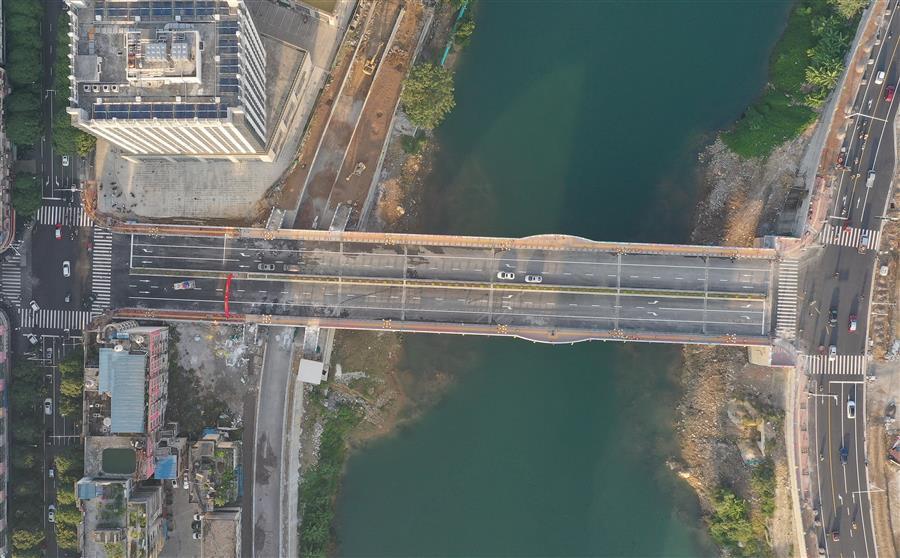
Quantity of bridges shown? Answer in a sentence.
Only 1 bridge is visible.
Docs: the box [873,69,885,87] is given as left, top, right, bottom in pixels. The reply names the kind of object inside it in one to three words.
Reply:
vehicle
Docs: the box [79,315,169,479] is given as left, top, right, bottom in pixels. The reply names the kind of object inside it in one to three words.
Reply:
building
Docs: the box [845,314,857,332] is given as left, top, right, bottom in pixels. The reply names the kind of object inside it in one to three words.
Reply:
vehicle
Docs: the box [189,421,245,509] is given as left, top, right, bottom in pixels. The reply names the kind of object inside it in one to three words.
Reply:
house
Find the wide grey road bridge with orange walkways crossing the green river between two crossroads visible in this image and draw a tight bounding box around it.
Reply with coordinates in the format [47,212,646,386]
[107,221,779,347]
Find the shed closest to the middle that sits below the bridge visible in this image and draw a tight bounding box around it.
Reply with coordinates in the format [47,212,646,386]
[298,359,329,384]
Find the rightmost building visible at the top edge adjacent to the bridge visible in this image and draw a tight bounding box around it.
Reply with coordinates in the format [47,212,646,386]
[71,0,308,168]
